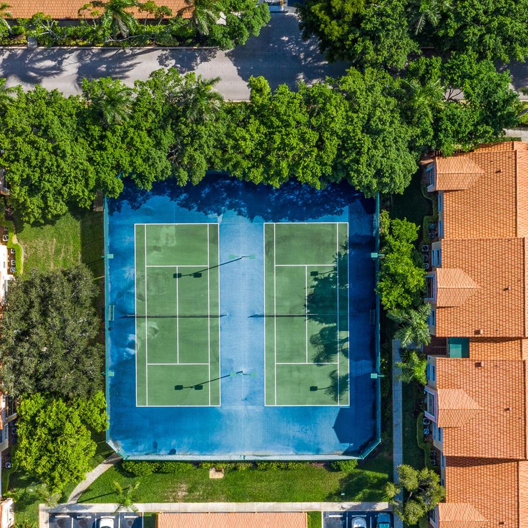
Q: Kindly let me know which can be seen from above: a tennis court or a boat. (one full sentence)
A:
Looking from above, you can make out a tennis court.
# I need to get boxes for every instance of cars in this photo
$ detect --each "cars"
[350,516,367,528]
[98,516,114,528]
[376,511,394,528]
